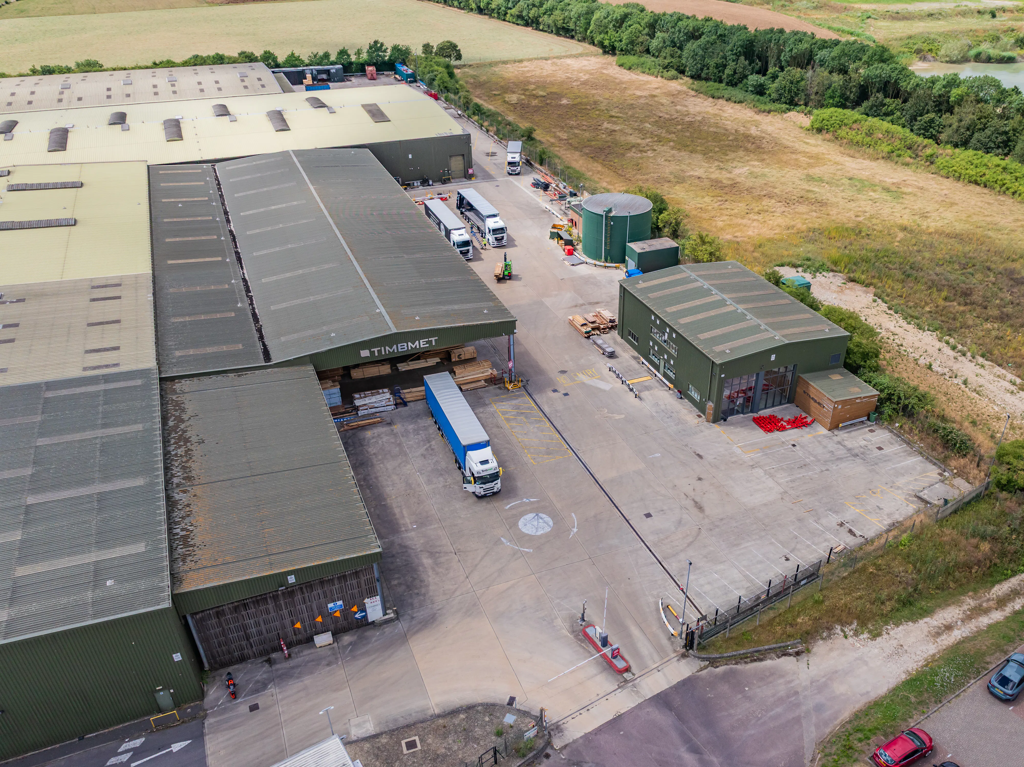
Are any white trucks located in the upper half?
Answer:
Yes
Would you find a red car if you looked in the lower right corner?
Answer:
Yes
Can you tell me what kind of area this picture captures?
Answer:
industrial area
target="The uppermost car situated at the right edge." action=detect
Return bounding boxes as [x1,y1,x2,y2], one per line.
[984,656,1024,703]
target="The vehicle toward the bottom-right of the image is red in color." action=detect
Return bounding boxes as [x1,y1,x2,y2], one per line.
[870,726,937,767]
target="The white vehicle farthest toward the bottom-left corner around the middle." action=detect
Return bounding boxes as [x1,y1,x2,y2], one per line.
[424,371,503,495]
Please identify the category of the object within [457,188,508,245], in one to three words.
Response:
truck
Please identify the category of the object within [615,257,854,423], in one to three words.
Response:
building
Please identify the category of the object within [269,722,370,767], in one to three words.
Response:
building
